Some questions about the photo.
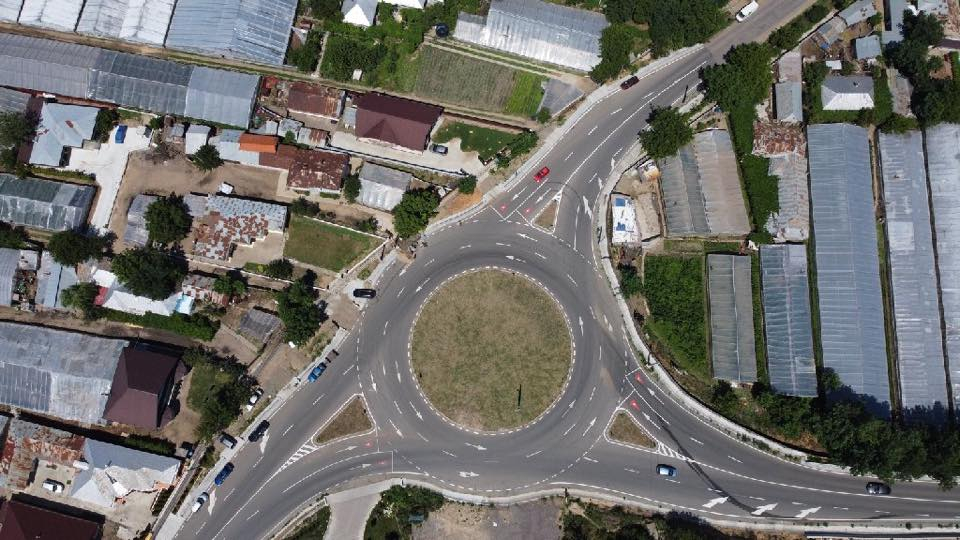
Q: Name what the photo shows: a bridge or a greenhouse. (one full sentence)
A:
Looking from above, you can make out a greenhouse.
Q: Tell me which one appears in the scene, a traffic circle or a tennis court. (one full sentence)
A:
Visible in the photo is a traffic circle.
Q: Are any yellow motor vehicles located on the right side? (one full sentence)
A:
No, there is no yellow motor vehicle on the right side.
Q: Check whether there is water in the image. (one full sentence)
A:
No, the scene doesn't show any water.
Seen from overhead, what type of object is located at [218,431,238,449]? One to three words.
car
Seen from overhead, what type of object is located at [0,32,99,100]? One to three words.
greenhouse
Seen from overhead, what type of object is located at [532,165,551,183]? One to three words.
car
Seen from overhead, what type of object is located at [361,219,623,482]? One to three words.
roundabout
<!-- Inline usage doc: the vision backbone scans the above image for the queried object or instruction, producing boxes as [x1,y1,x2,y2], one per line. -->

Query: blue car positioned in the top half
[114,125,128,144]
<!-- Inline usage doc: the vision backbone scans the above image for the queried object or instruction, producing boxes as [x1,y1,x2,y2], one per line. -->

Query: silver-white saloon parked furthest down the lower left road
[190,490,211,513]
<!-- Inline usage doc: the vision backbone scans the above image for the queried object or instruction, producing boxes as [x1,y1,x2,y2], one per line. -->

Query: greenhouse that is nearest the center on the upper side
[355,161,412,211]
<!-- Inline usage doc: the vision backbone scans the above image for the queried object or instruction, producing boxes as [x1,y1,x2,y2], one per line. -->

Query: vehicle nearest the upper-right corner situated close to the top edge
[734,0,761,22]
